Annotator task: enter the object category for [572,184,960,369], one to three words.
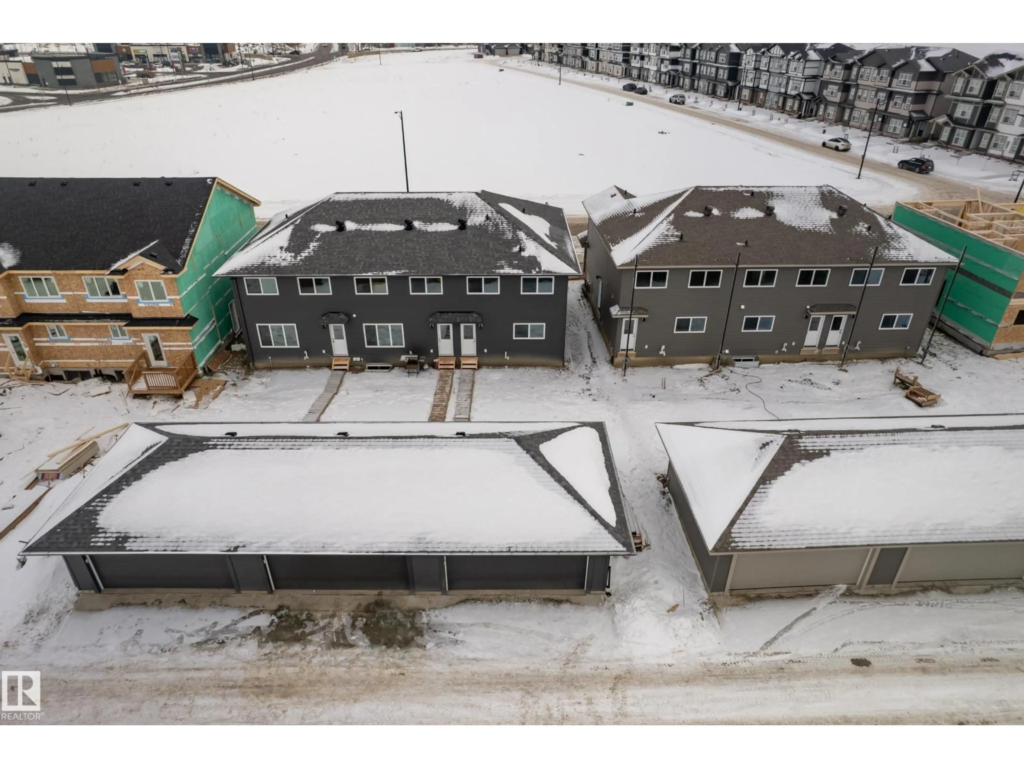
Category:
house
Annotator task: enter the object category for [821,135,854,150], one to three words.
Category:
car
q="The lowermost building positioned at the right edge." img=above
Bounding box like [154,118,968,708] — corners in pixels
[654,412,1024,604]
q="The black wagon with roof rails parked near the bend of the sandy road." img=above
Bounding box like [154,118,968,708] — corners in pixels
[896,153,938,173]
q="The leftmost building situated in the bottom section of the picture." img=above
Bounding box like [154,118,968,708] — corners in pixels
[16,420,636,611]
